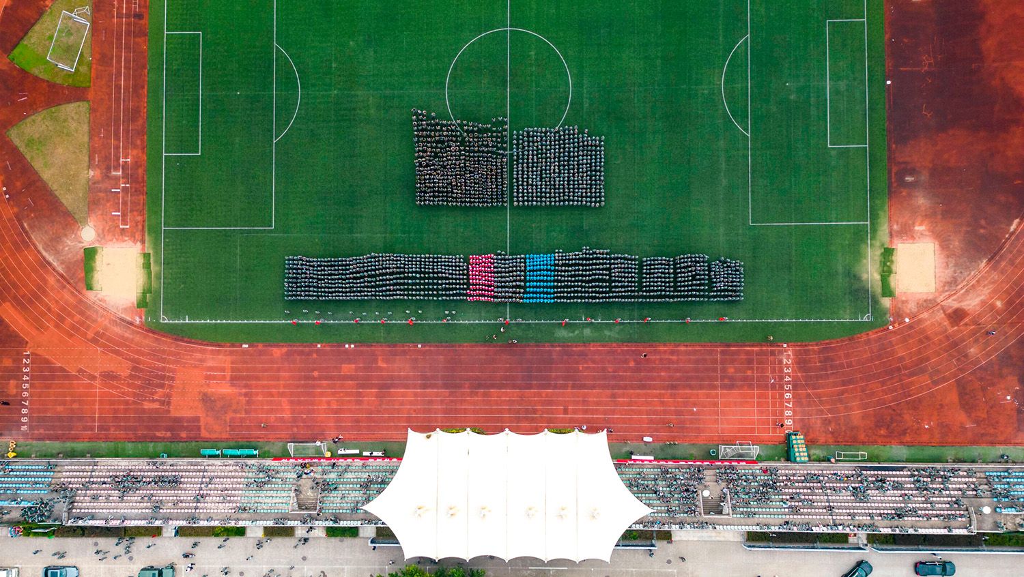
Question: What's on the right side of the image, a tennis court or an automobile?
automobile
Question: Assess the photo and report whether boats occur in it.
No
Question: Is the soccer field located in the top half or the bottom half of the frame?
top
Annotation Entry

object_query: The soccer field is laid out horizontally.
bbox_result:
[144,0,890,344]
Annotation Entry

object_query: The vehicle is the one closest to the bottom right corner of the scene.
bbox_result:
[912,558,952,576]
